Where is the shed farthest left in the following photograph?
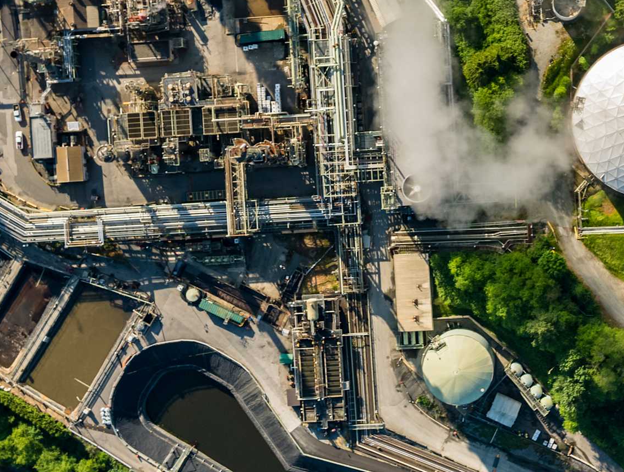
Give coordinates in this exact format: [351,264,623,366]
[32,116,59,160]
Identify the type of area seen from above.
industrial area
